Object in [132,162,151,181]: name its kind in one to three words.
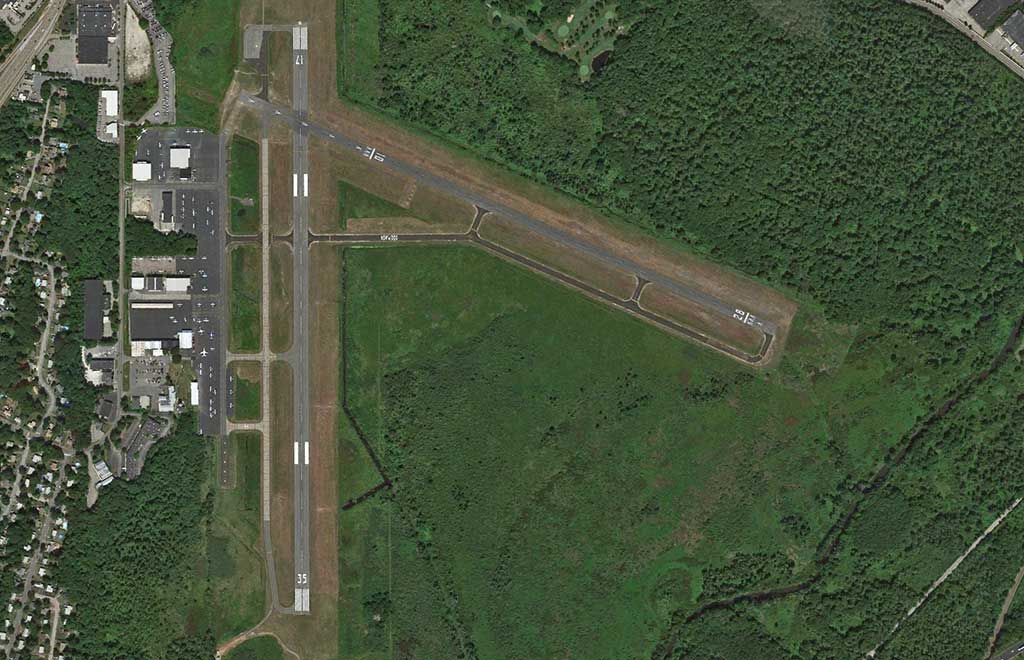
hangar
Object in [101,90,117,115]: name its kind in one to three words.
building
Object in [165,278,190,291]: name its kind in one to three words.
hangar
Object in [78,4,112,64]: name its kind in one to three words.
building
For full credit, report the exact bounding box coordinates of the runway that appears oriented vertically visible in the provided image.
[293,24,309,614]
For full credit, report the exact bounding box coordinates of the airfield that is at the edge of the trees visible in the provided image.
[124,0,777,616]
